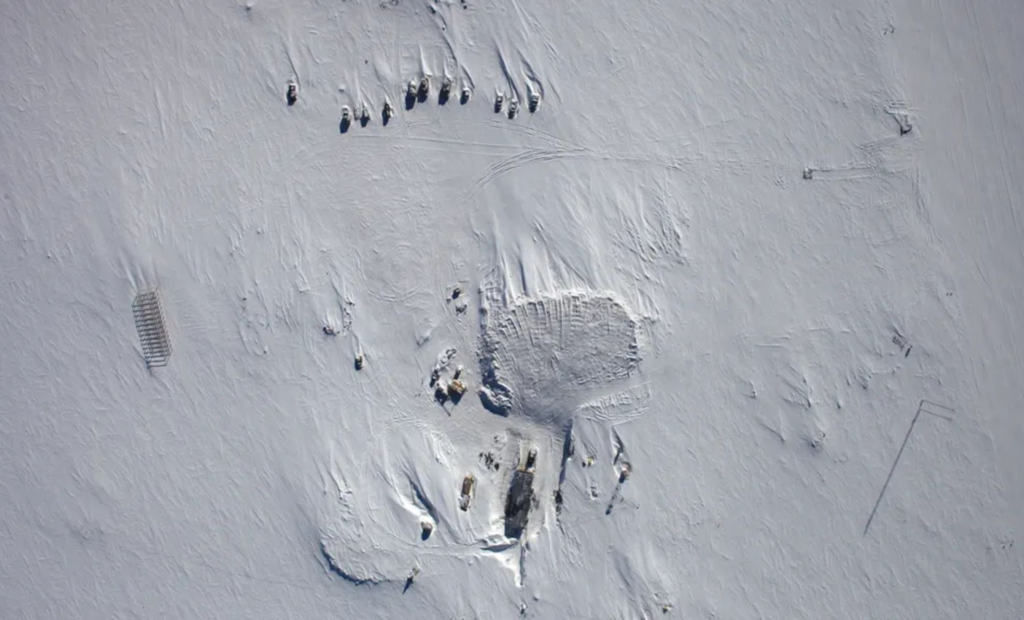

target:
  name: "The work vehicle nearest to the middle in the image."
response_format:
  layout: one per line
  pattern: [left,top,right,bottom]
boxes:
[444,375,466,397]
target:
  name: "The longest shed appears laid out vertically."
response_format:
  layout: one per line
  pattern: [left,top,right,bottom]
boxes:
[508,471,535,527]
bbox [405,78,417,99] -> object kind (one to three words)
vehicle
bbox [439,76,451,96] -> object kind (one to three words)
vehicle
